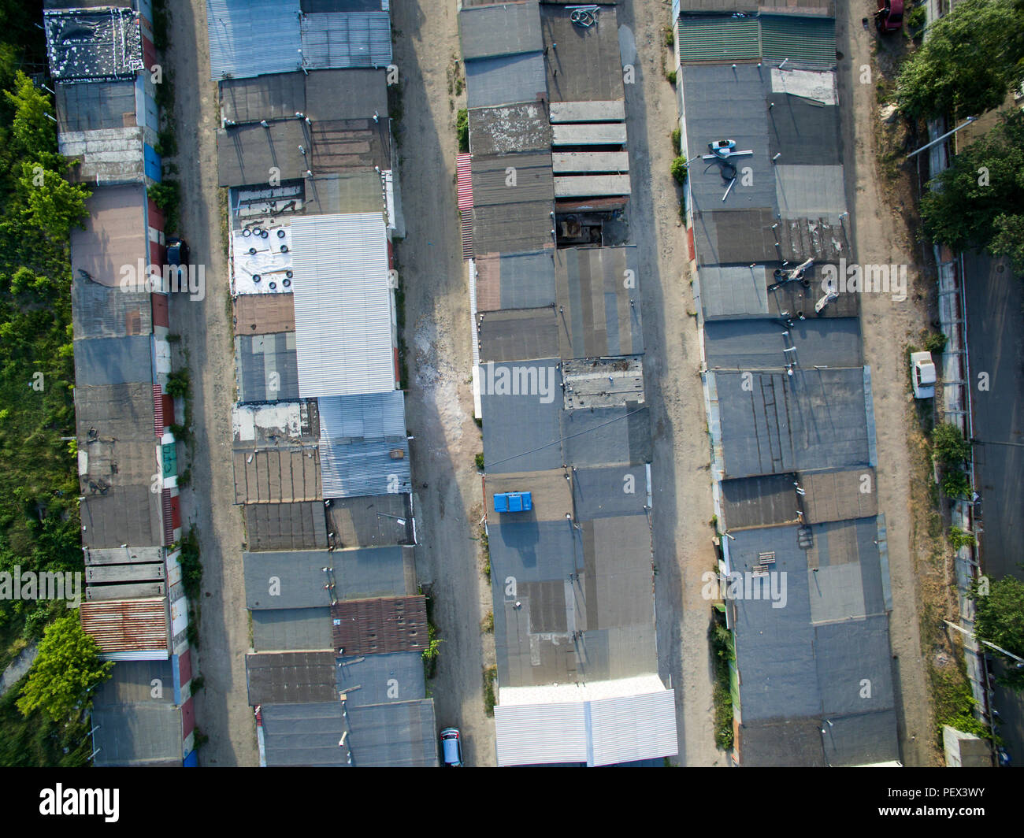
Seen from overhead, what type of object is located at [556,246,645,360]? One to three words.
building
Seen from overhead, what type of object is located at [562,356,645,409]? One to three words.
building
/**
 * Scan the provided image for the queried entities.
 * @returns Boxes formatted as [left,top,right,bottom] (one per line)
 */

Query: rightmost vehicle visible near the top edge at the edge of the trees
[870,0,906,32]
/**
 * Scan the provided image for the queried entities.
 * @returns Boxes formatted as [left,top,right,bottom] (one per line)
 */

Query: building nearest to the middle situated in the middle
[472,358,567,473]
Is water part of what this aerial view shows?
No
